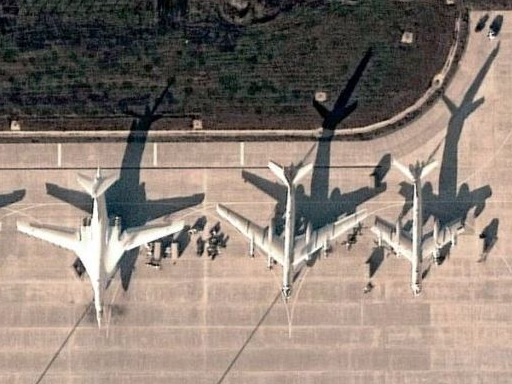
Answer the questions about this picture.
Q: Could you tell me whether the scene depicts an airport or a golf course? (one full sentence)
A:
This image shows an airport.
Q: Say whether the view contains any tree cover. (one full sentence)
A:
No, there is no tree cover in the image.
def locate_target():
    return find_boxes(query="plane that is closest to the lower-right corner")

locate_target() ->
[370,155,462,299]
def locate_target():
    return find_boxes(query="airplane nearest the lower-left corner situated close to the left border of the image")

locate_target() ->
[19,167,180,329]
